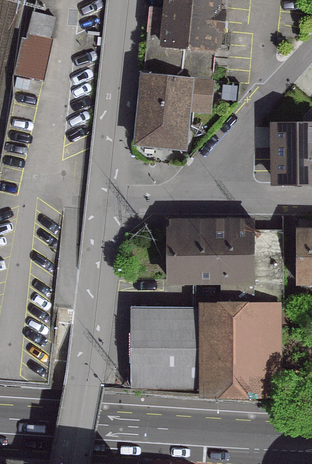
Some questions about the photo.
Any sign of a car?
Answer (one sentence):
Yes, there's a car here.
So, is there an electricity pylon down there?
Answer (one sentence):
Yes, an electricity pylon is visible in the scene.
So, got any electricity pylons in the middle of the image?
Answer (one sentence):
Yes, there is an electricity pylon in the middle of the image.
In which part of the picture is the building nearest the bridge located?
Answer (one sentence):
The building nearest the bridge appears toward the bottom of the photo.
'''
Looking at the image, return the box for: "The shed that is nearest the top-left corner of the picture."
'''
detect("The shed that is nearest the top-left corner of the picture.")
[28,10,56,38]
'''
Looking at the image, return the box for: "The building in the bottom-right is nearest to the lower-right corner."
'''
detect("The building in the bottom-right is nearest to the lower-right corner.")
[198,302,284,398]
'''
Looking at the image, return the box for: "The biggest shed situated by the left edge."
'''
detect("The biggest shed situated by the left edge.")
[14,36,53,80]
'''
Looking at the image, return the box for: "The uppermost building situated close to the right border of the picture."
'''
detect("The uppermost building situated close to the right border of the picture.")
[270,120,312,186]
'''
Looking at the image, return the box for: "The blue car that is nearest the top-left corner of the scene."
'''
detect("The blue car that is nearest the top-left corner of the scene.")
[78,16,100,30]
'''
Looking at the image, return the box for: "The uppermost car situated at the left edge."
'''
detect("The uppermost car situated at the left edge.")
[13,92,38,104]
